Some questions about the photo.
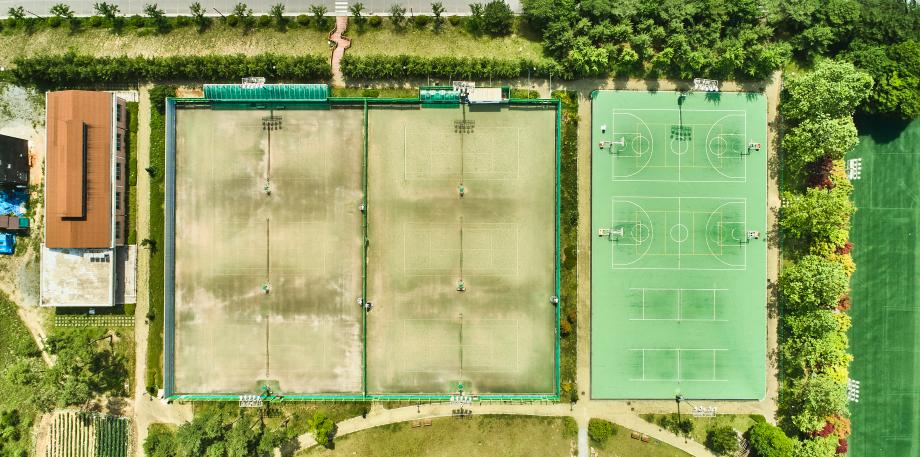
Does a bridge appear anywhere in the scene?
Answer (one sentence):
No, the photo shows no bridge.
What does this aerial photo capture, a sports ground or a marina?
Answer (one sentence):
The area seen from above is a sports ground.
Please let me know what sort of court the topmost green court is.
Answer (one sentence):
The topmost green court can be classified as a basketball court.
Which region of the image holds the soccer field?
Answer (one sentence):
The soccer field is located in the right region of the scene.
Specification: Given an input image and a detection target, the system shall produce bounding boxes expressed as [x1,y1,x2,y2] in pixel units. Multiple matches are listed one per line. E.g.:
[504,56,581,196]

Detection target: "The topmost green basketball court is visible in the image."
[593,92,766,189]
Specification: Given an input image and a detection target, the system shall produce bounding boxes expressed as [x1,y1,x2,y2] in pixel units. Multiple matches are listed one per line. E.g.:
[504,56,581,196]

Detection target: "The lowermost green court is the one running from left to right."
[593,335,766,400]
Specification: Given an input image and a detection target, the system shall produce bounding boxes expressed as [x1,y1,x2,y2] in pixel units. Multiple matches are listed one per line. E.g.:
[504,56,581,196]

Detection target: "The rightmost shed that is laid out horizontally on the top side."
[468,88,501,101]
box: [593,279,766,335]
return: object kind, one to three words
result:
sports court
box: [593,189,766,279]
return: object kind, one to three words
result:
basketball court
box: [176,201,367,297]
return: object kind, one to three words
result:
tennis court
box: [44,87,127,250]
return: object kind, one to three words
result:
building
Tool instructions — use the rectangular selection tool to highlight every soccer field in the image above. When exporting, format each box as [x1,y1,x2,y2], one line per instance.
[848,96,920,457]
